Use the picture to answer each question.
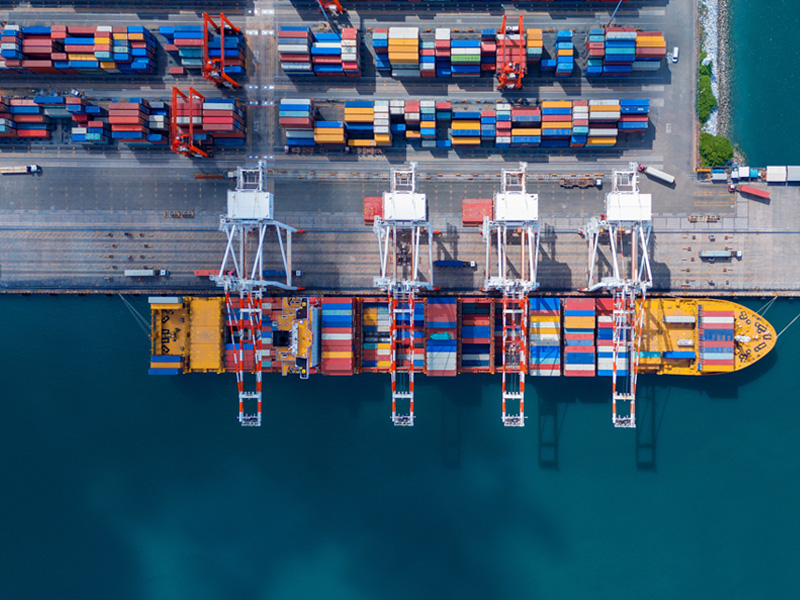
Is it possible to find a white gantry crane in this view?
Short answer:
Yes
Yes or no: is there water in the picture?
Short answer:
Yes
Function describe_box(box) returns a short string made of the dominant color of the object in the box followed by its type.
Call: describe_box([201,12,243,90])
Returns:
red crane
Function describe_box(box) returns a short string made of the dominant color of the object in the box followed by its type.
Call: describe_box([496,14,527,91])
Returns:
red crane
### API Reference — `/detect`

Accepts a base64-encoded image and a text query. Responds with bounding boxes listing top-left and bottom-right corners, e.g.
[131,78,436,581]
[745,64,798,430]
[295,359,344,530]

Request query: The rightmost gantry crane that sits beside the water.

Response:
[570,161,655,428]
